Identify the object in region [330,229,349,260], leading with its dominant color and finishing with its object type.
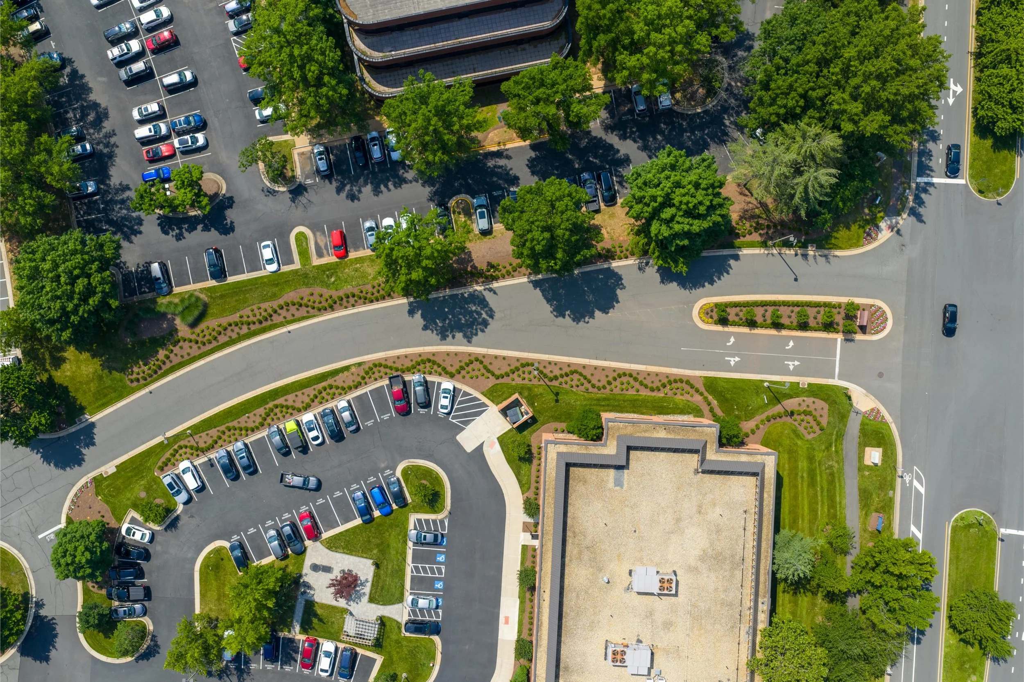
red car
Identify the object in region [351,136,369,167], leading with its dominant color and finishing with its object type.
black car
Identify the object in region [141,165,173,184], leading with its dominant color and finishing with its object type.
blue car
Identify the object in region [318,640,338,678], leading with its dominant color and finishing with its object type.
white car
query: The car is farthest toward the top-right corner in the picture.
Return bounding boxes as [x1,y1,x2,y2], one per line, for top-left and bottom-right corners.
[944,143,961,178]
